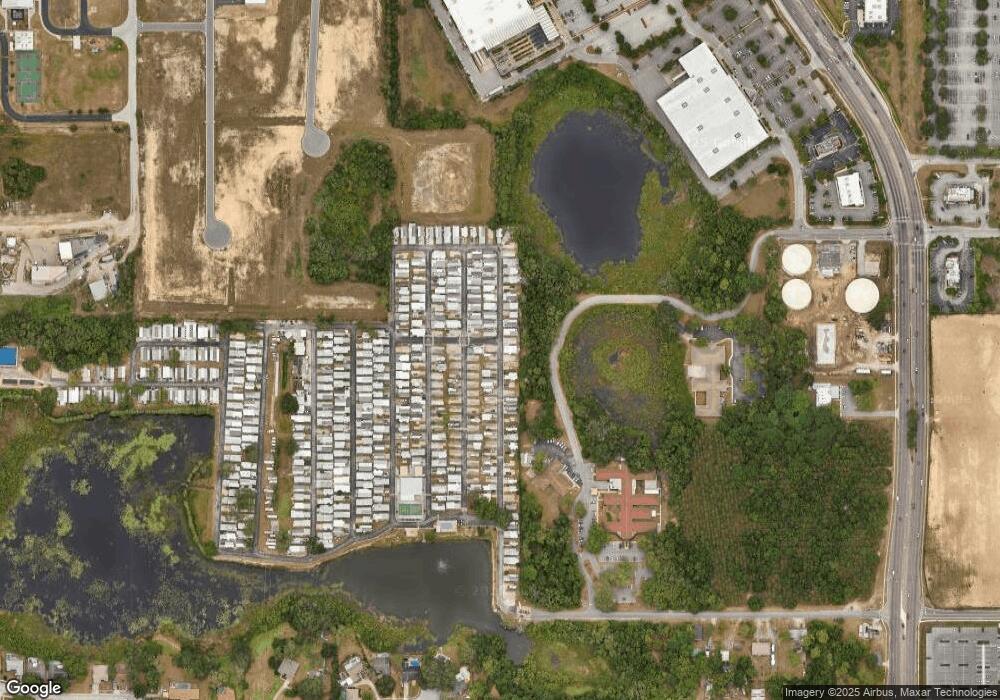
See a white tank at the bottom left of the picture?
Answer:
No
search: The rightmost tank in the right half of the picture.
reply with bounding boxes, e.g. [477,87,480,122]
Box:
[845,277,880,312]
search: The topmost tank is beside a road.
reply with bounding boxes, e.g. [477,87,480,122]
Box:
[781,244,812,275]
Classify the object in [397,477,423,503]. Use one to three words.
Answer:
building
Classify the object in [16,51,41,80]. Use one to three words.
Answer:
sports court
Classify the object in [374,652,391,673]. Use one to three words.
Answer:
house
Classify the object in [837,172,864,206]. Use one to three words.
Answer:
building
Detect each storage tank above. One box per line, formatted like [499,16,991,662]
[845,277,880,312]
[781,244,812,275]
[782,278,812,309]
